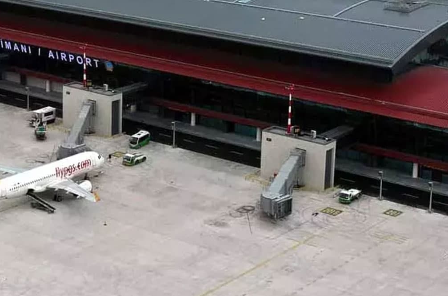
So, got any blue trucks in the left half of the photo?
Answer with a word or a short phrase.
No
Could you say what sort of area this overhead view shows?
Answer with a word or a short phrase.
airport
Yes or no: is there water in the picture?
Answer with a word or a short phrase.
No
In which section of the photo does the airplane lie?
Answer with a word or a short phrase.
left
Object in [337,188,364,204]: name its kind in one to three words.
vehicle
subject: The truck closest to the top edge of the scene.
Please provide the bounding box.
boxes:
[29,102,59,127]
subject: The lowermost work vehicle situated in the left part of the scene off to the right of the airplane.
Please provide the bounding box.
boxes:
[121,151,149,164]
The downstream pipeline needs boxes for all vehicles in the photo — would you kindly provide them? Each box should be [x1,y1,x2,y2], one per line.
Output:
[20,190,51,221]
[29,102,59,127]
[33,128,48,139]
[337,188,364,204]
[127,128,153,147]
[121,151,149,164]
